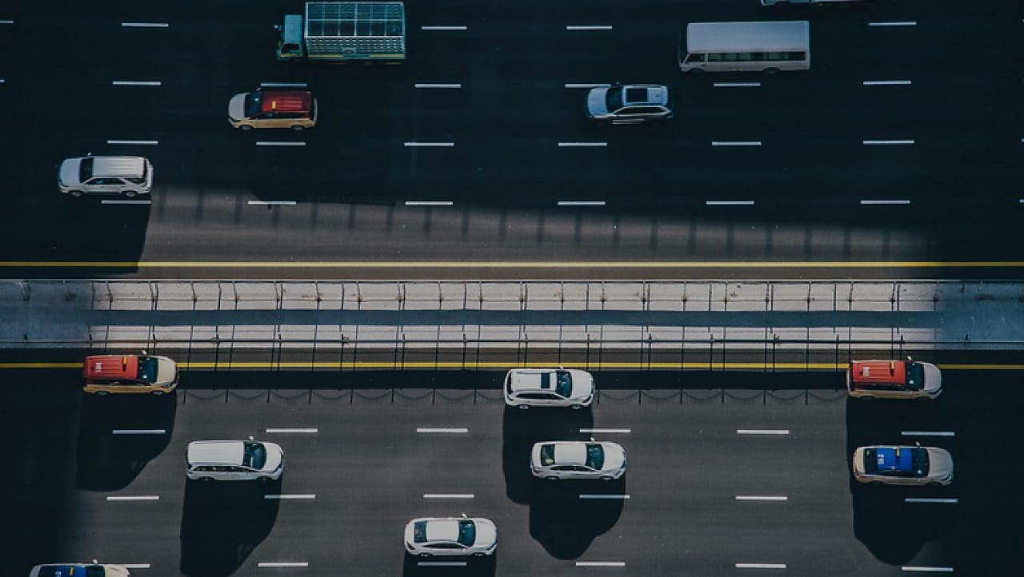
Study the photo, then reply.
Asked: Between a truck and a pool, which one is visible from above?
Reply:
truck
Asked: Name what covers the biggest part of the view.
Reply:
paved ground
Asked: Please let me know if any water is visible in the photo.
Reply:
No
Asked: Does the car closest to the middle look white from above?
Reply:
Yes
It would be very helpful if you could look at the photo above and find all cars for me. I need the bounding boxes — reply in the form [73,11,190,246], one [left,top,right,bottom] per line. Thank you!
[852,441,952,487]
[530,436,627,481]
[59,152,153,198]
[84,350,179,396]
[32,559,130,577]
[504,364,595,410]
[187,437,285,483]
[228,86,319,130]
[403,513,498,559]
[586,80,673,124]
[846,354,941,400]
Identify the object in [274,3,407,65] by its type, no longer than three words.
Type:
truck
